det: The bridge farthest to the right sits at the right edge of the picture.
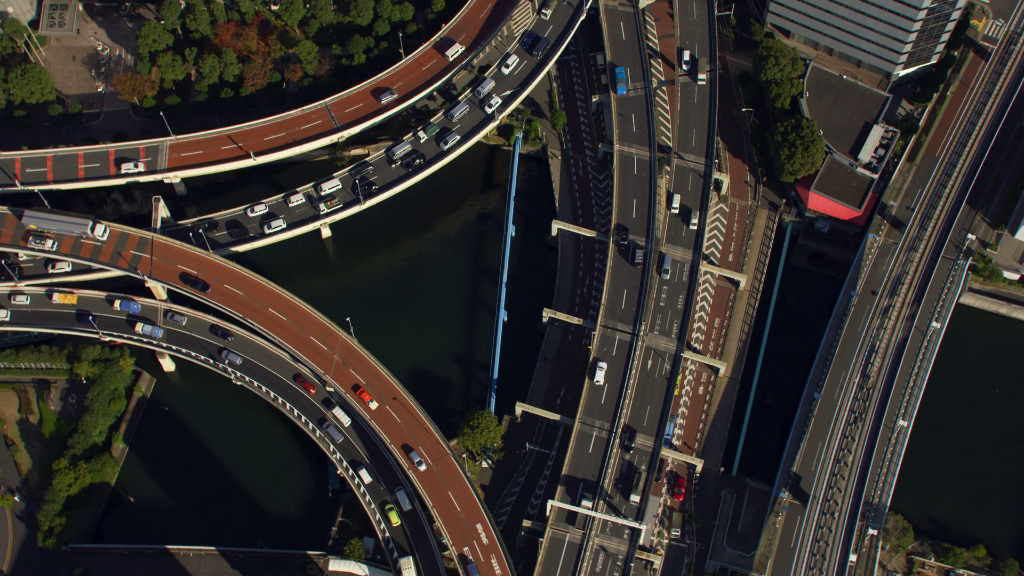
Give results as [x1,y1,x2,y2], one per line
[747,0,1024,576]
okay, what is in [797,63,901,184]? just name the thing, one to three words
building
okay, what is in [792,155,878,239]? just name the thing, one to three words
building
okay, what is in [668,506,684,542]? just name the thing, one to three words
vehicle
